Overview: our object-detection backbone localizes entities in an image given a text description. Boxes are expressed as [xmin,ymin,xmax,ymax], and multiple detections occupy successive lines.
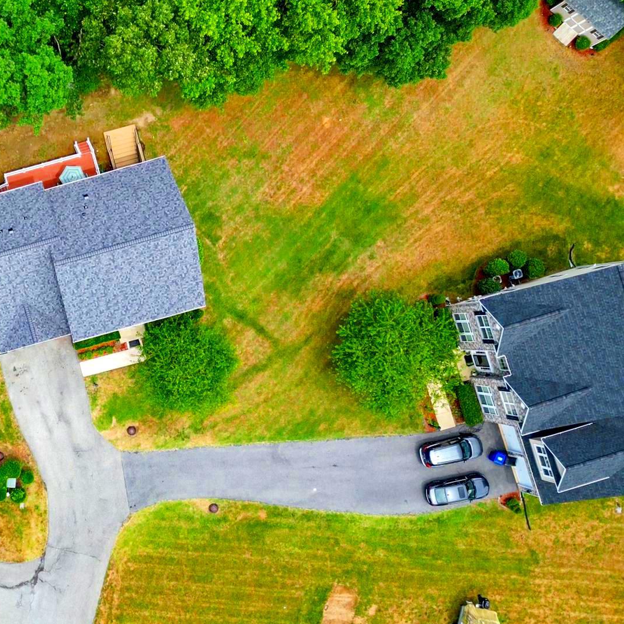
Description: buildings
[550,0,624,56]
[451,254,624,508]
[0,155,207,354]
